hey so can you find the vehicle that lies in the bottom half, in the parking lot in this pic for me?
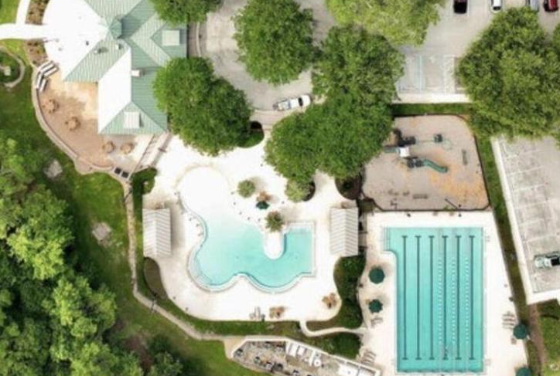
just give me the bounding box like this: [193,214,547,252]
[533,252,560,268]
